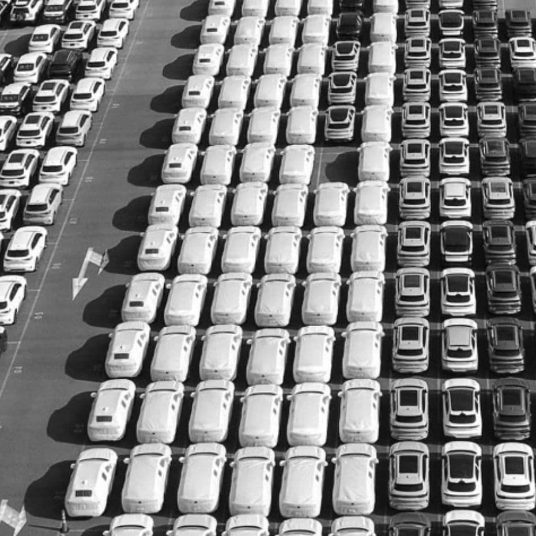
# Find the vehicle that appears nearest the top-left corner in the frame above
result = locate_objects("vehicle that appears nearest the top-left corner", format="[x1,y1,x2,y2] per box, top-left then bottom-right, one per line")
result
[10,0,46,26]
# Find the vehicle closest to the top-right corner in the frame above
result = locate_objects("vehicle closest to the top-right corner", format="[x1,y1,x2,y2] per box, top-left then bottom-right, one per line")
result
[506,9,533,40]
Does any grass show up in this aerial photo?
No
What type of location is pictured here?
parking lot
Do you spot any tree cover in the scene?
No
